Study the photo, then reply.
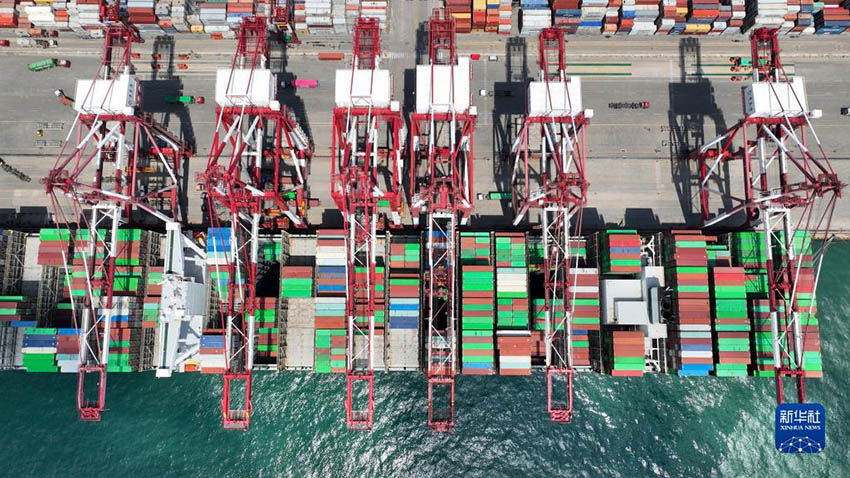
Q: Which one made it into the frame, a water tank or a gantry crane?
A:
gantry crane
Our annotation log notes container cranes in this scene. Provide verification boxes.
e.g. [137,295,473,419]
[675,25,846,422]
[41,20,203,418]
[406,7,487,430]
[330,14,408,429]
[496,25,599,421]
[196,16,312,428]
[272,0,305,39]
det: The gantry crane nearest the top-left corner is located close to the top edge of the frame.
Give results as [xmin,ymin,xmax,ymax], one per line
[97,0,126,29]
